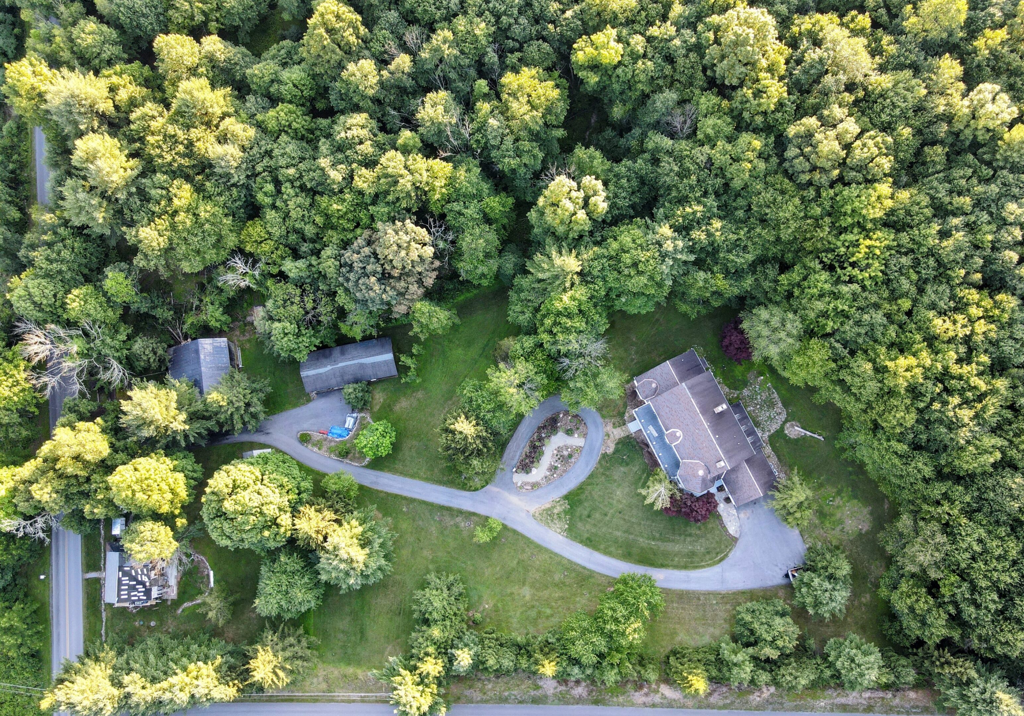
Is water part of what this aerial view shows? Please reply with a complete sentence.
No, no water is visible.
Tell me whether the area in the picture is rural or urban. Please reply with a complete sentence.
It looks rural.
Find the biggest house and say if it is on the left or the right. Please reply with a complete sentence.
You can find the biggest house on the right side of the picture.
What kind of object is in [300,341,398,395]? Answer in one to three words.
shed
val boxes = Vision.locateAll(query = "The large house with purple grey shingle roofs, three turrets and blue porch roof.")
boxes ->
[627,348,776,507]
